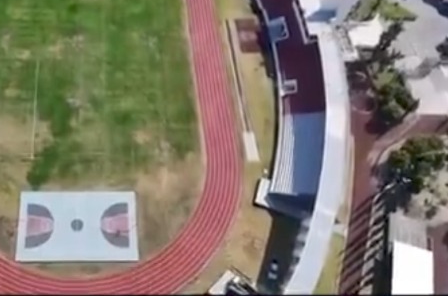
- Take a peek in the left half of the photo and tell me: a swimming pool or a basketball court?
basketball court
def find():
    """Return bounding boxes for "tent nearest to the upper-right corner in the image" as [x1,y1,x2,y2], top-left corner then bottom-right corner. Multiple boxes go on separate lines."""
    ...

[348,14,382,48]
